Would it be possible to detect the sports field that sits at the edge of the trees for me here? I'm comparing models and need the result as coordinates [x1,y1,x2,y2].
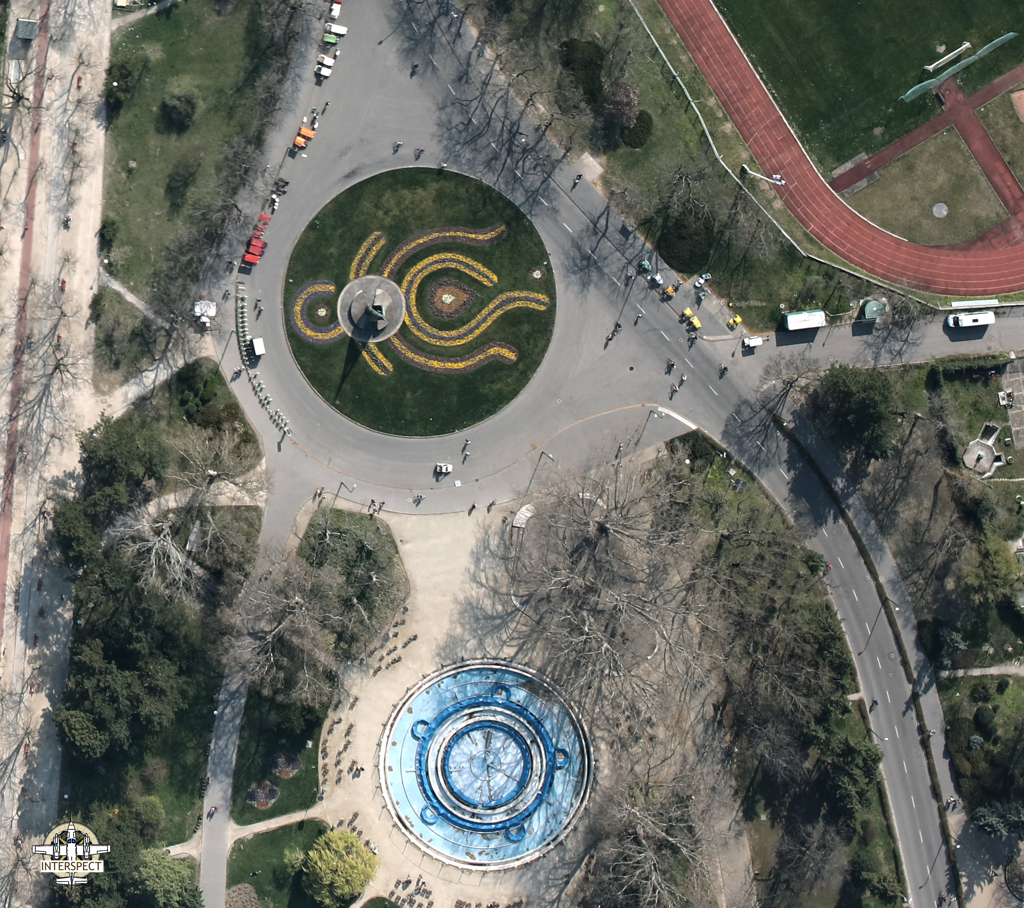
[711,0,1024,245]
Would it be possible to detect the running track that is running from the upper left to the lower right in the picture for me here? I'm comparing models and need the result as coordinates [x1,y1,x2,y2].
[658,0,1024,296]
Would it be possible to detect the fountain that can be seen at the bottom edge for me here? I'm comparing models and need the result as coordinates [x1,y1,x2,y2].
[380,658,594,872]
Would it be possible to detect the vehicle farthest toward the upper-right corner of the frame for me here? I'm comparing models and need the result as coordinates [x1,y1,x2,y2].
[946,309,993,328]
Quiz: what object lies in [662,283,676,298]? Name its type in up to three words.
car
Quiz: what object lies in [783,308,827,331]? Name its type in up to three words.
trailer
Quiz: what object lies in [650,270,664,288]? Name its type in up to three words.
car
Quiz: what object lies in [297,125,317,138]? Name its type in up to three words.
vehicle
